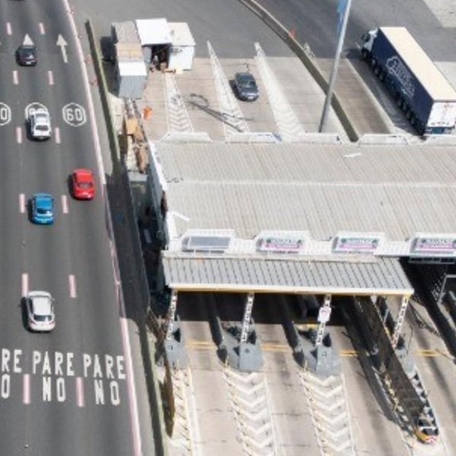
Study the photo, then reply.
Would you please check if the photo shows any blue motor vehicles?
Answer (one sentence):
Yes, there's a blue motor vehicle down there.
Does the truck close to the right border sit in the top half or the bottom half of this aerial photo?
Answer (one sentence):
The truck close to the right border sits in the top half of the picture.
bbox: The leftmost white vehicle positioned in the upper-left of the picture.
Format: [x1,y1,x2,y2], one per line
[29,109,53,136]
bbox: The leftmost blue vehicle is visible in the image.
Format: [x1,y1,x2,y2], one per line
[29,189,57,220]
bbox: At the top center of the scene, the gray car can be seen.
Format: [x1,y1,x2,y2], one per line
[237,69,262,97]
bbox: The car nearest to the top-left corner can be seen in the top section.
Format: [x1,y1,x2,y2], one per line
[16,44,38,65]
